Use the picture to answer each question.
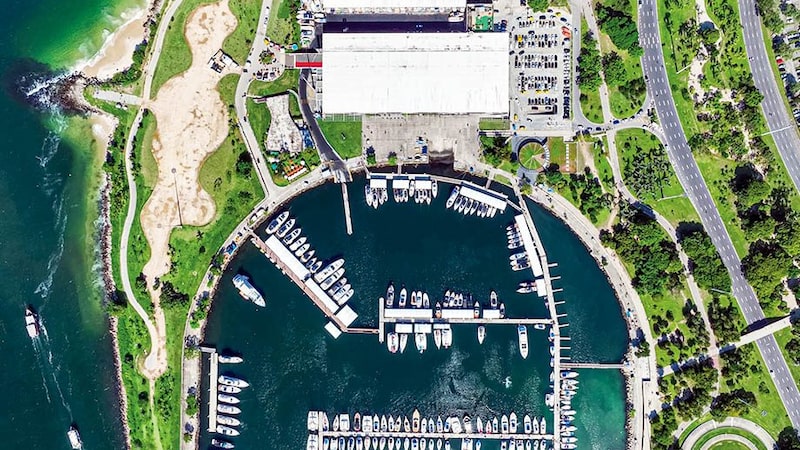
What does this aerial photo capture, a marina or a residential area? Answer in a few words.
marina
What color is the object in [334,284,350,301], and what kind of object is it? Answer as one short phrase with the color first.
white boat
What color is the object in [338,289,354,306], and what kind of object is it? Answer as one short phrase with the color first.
white boat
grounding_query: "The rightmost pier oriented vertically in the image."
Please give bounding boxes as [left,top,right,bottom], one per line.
[513,189,561,450]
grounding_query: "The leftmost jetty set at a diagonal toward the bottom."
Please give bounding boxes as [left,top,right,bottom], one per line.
[252,234,348,331]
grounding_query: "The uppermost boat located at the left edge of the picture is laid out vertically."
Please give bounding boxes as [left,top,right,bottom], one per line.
[27,308,40,339]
